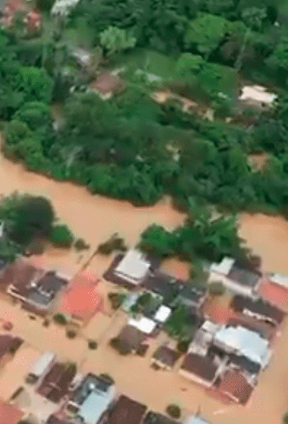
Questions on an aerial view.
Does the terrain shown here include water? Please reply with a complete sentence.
Yes, there's water in this view.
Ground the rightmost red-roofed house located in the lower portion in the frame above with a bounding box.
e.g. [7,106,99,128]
[256,277,288,309]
